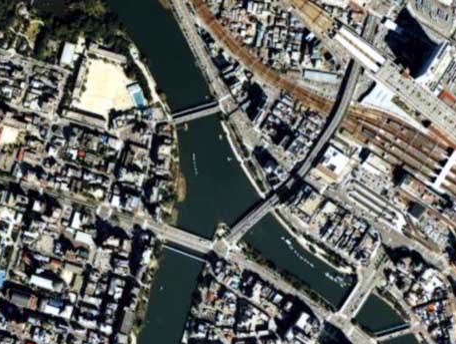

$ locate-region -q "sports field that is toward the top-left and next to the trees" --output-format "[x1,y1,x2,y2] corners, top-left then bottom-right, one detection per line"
[72,60,135,120]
